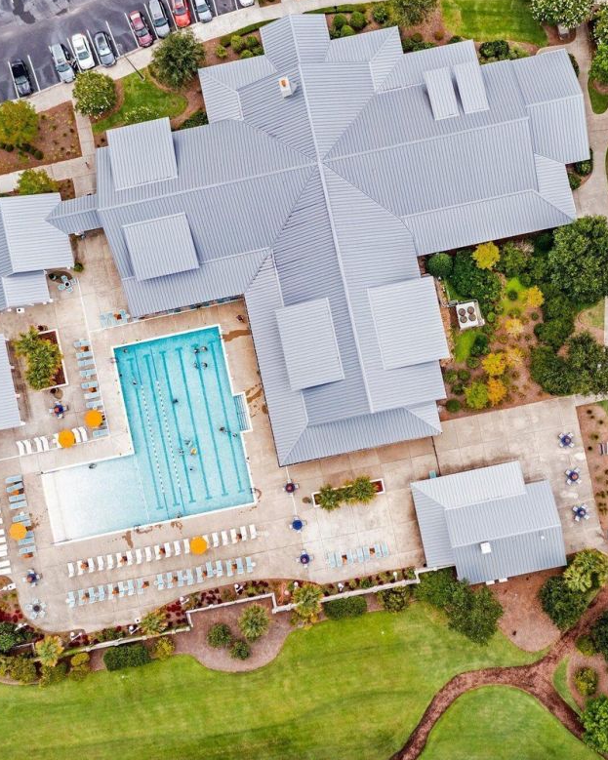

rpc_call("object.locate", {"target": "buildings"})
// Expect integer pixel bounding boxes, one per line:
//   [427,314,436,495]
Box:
[0,192,102,310]
[0,334,23,428]
[96,14,590,467]
[410,461,566,583]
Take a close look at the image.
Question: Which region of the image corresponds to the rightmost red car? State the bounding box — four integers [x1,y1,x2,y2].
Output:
[171,0,192,30]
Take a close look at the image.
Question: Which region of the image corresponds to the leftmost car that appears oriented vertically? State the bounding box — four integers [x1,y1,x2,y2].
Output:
[13,58,34,98]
